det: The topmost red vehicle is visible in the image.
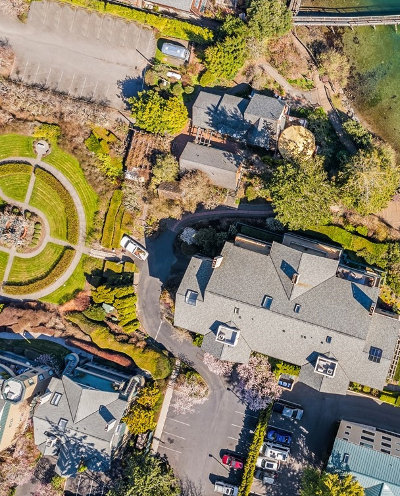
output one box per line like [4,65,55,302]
[220,453,246,469]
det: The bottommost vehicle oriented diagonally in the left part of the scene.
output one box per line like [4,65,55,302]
[118,237,153,261]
